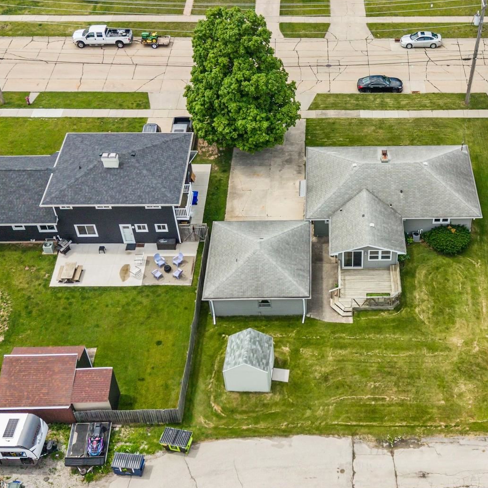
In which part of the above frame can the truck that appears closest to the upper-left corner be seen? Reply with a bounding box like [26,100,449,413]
[69,22,132,45]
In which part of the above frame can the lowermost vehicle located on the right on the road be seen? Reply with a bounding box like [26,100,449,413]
[357,71,404,91]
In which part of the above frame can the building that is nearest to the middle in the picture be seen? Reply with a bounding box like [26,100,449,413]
[201,220,312,323]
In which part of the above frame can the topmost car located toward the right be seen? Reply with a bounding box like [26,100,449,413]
[399,28,443,46]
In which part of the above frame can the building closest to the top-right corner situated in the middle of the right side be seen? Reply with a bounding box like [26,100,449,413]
[298,139,482,273]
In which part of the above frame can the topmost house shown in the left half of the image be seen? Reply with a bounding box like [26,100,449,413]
[0,132,206,244]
